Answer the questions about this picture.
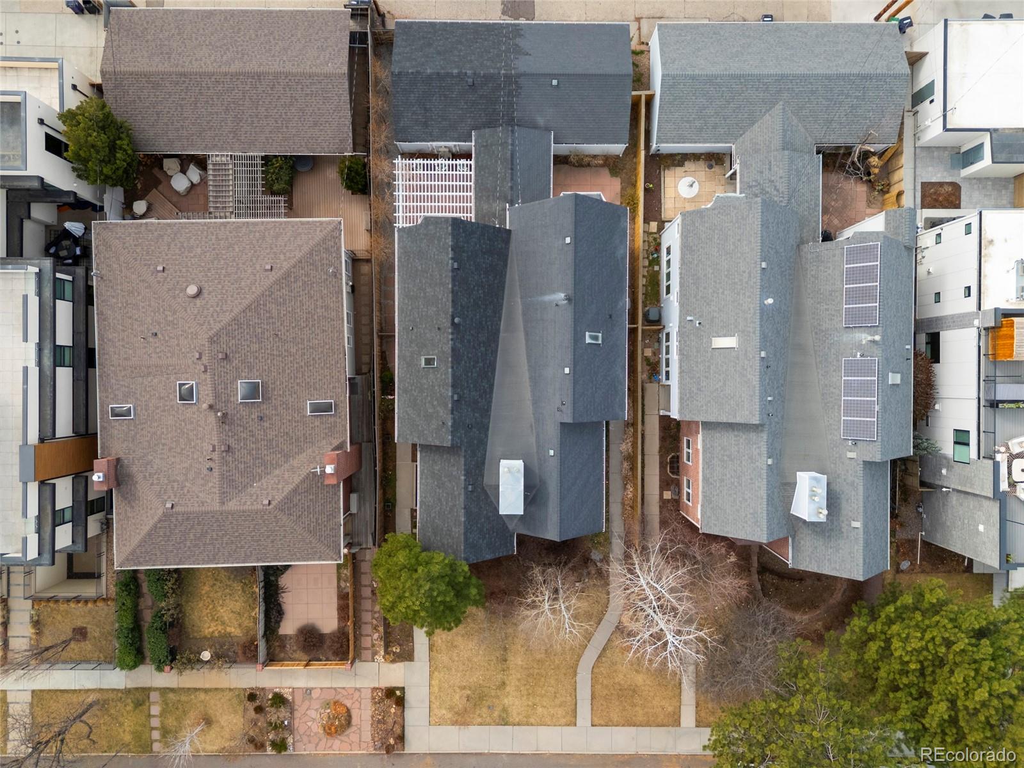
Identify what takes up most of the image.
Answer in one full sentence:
For the most part, this view shows buildings.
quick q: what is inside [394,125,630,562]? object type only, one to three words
house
